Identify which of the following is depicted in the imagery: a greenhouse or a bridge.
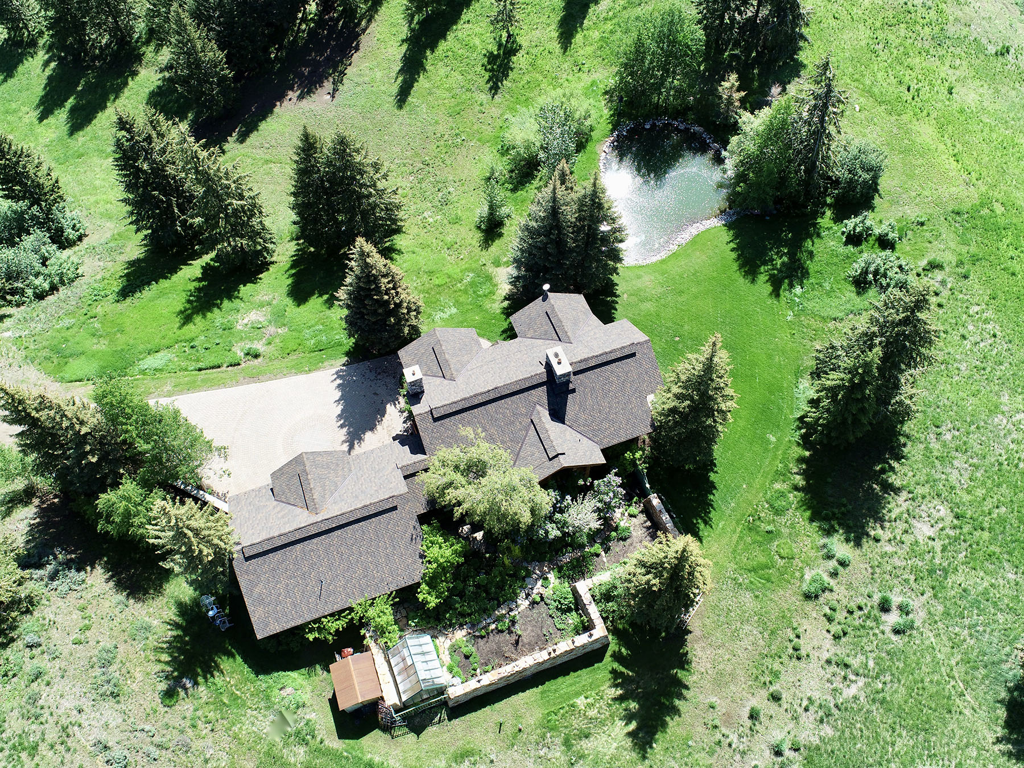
greenhouse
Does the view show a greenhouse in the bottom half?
Yes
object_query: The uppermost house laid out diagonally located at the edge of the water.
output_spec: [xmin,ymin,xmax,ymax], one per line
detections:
[232,294,666,640]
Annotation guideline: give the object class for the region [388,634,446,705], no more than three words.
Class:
greenhouse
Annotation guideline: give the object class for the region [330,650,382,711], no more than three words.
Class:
shed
